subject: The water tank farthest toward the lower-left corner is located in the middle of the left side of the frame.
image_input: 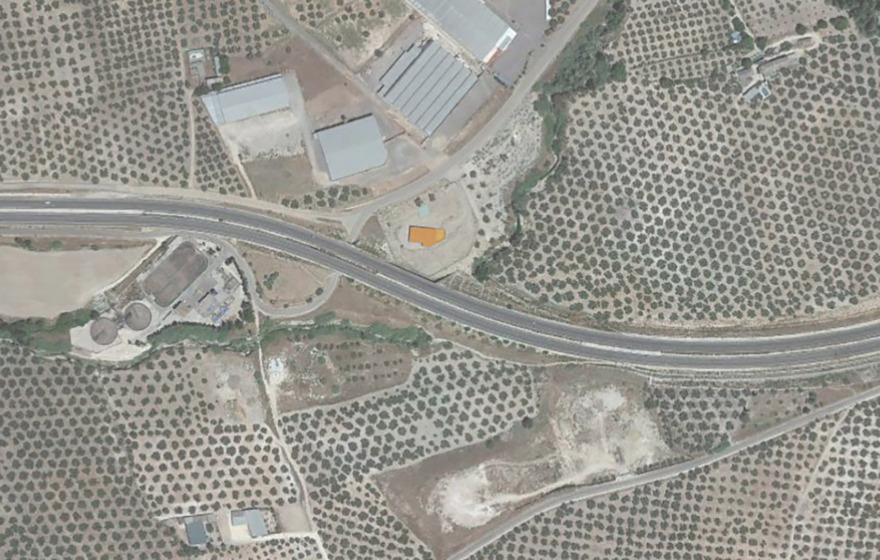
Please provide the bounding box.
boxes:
[90,318,118,344]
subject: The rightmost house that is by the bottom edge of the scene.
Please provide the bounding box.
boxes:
[245,508,268,538]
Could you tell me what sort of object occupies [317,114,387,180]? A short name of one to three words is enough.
building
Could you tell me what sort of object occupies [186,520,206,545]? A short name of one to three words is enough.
shed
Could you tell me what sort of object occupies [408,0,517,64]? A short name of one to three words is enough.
building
